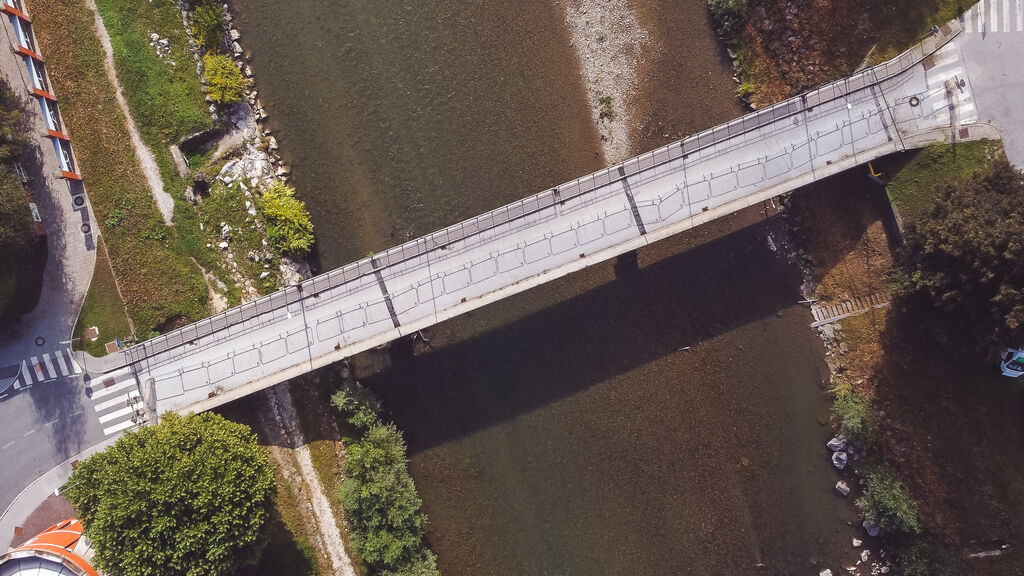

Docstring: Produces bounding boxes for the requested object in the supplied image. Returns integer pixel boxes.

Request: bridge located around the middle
[110,63,908,431]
